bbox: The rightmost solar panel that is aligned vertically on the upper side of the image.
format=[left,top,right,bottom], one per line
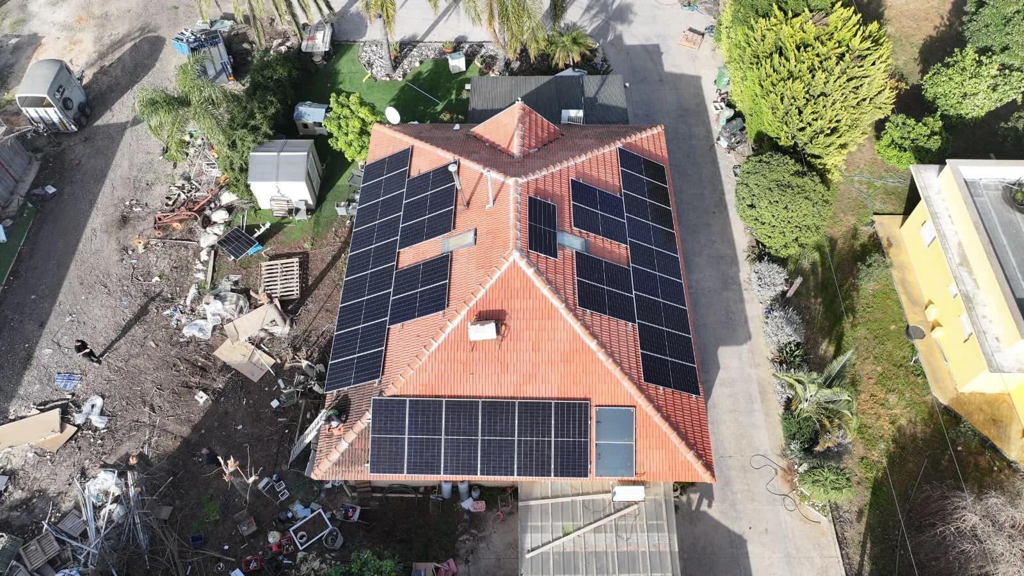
[530,195,559,262]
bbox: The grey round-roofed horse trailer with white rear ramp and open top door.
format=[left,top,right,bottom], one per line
[18,60,94,131]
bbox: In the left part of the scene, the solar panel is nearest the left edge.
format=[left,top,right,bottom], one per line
[218,227,258,260]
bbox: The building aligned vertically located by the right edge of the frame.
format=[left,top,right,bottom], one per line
[902,152,1024,416]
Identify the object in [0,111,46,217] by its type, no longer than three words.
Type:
shed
